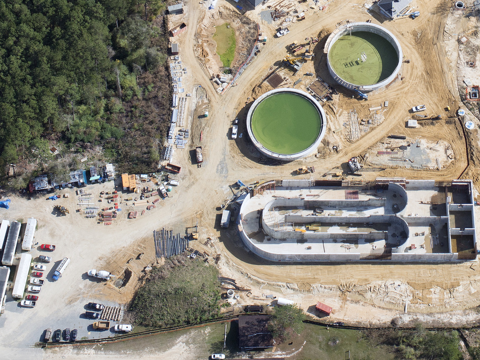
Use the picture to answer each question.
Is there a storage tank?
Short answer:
Yes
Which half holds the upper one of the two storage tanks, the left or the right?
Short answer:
right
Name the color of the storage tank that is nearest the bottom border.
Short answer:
green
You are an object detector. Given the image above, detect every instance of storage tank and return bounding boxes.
[325,23,403,93]
[247,88,326,162]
